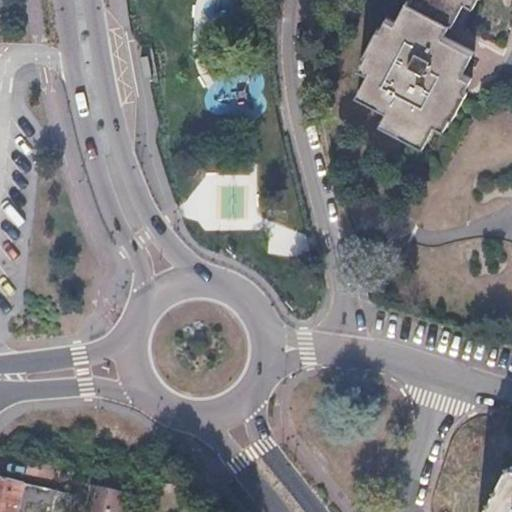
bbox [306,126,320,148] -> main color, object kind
white car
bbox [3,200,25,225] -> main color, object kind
white vehicle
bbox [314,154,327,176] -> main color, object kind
white vehicle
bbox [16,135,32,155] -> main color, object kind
white car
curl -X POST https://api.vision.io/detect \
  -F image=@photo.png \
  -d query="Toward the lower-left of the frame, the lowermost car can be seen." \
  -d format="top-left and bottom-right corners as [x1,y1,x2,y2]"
[6,462,27,474]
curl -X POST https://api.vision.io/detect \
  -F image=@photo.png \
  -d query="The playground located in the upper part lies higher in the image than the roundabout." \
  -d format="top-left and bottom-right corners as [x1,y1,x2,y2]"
[205,74,268,118]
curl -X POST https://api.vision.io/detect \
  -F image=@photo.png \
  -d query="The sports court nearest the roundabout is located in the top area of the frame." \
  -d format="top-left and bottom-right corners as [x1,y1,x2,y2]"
[180,164,264,230]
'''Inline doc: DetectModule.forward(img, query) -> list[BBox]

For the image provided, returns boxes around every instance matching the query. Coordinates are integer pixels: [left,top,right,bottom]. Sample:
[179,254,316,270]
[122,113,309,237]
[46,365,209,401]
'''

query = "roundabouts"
[111,261,283,437]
